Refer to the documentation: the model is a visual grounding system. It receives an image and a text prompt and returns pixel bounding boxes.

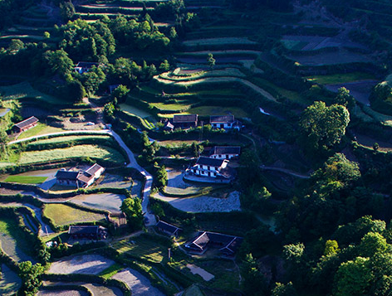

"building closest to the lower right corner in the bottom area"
[184,230,257,261]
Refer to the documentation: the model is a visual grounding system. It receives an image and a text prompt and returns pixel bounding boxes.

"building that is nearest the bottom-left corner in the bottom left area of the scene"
[64,226,116,243]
